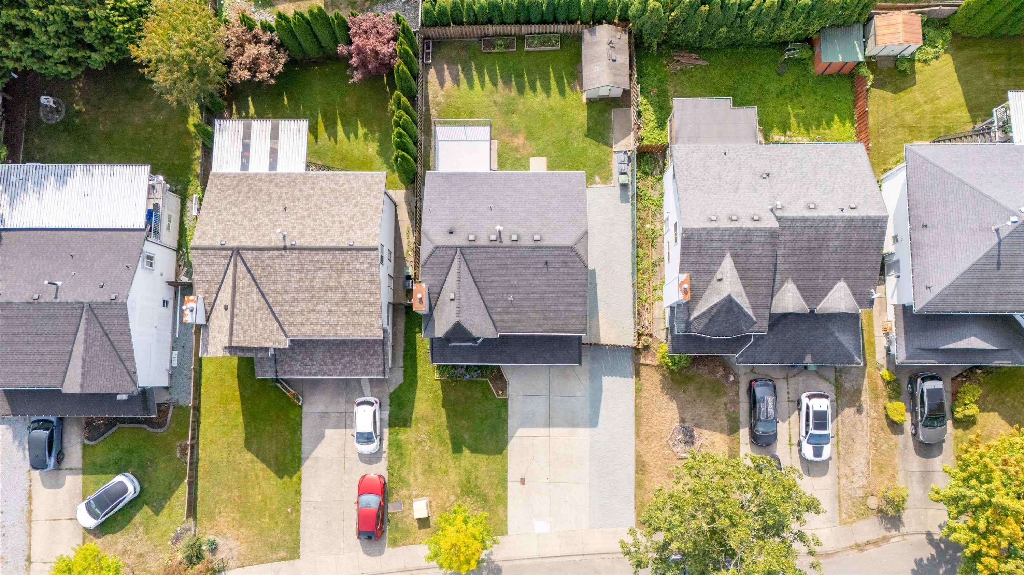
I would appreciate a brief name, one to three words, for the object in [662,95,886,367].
house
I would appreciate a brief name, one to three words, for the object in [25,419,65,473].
car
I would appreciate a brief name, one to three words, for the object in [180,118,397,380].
house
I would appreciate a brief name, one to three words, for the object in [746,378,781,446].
car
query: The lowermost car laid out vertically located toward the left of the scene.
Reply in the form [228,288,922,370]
[355,472,389,542]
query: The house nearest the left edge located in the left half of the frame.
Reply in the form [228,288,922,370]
[0,164,180,419]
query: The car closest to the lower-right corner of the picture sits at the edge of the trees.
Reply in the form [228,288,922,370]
[909,372,953,444]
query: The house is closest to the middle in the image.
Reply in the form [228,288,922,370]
[412,119,590,367]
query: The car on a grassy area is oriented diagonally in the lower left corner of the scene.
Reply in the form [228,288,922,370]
[79,472,145,527]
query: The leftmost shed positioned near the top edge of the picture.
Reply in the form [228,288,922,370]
[579,25,632,102]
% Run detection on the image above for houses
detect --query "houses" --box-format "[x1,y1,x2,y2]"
[0,164,180,419]
[881,90,1024,367]
[412,119,590,367]
[662,95,886,367]
[180,118,397,380]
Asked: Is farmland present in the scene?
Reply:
No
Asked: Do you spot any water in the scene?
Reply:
No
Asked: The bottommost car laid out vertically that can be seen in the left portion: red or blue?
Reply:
red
